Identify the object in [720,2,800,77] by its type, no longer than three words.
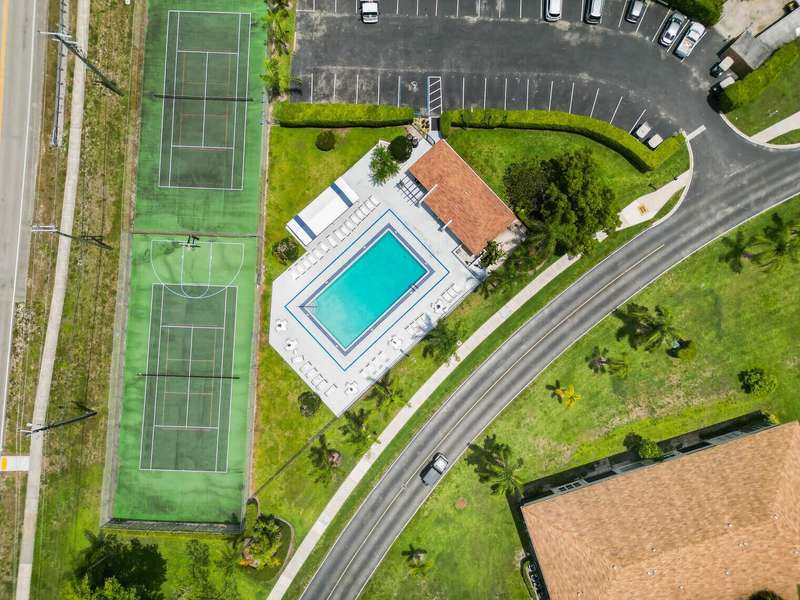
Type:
building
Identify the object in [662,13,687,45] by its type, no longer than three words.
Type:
car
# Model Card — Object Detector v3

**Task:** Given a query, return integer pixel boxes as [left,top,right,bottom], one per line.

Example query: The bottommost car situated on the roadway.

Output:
[420,457,449,488]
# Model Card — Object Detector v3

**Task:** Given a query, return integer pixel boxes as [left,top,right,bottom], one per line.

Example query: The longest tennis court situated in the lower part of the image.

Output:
[112,234,257,524]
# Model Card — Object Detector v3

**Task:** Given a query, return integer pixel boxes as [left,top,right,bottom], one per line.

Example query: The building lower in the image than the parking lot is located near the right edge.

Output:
[516,420,800,600]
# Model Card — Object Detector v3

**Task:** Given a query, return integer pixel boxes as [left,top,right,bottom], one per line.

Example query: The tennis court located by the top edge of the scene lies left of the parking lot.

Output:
[132,0,267,237]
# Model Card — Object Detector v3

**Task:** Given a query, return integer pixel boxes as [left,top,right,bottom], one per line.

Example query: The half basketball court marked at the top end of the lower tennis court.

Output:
[149,240,245,299]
